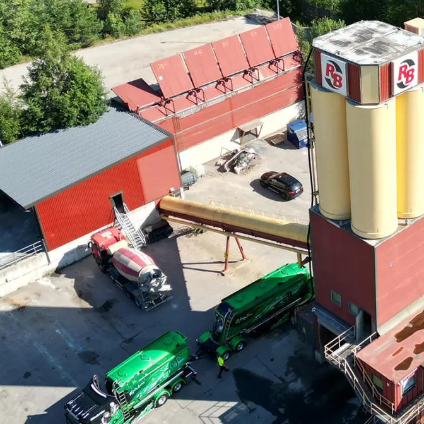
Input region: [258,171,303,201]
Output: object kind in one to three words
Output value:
car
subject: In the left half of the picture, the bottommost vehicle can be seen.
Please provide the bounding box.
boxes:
[49,317,196,424]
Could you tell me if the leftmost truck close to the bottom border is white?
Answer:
No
